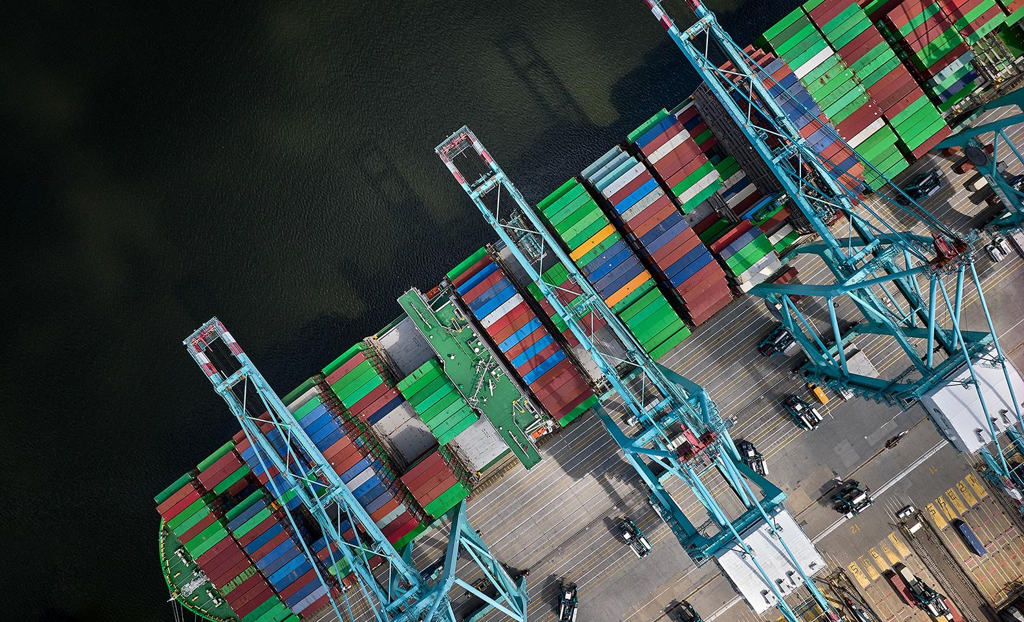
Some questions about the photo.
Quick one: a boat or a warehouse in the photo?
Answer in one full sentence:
Looking from above, you can make out a boat.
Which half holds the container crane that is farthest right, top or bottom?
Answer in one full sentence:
Seen from above, the container crane that is farthest right lies in the top half of the view.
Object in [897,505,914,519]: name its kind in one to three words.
vehicle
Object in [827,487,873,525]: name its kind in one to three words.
work vehicle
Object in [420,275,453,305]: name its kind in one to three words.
boat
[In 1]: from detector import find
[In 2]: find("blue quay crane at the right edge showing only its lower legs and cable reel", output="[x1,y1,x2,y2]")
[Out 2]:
[913,85,1024,234]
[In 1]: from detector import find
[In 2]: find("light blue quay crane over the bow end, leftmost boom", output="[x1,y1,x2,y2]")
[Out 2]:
[170,313,537,622]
